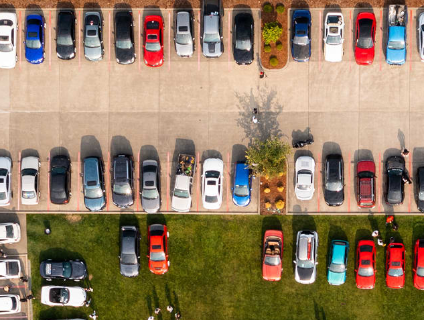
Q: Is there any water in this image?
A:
No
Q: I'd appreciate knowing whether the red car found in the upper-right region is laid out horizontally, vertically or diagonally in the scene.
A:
vertically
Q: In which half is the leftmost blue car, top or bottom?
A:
top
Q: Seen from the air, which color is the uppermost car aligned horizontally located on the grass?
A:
black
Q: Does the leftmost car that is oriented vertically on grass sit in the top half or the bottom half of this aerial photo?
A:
bottom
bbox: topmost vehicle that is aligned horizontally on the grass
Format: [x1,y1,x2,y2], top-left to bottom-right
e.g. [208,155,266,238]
[40,258,87,281]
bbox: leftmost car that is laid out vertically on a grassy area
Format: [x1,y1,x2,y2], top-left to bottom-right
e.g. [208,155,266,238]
[118,225,141,277]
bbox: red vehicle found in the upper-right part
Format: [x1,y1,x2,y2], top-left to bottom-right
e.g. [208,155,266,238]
[354,12,378,66]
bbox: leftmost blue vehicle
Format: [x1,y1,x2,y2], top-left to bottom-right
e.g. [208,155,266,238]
[23,14,47,65]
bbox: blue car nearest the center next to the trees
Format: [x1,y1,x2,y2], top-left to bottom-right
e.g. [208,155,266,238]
[230,160,254,208]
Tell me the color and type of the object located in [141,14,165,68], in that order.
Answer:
red car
